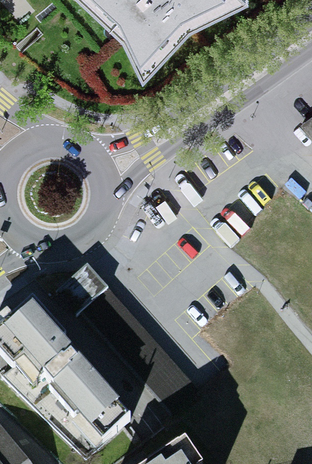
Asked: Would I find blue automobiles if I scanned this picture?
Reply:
Yes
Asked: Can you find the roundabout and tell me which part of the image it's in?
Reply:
left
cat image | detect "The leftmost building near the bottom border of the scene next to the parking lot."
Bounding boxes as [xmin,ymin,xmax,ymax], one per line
[0,295,130,461]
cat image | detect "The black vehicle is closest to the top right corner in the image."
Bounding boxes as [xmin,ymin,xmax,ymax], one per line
[294,97,310,118]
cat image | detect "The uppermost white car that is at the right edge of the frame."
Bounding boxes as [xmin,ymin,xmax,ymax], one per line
[293,126,312,146]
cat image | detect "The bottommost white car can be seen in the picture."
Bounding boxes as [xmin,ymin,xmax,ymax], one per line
[188,304,209,326]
